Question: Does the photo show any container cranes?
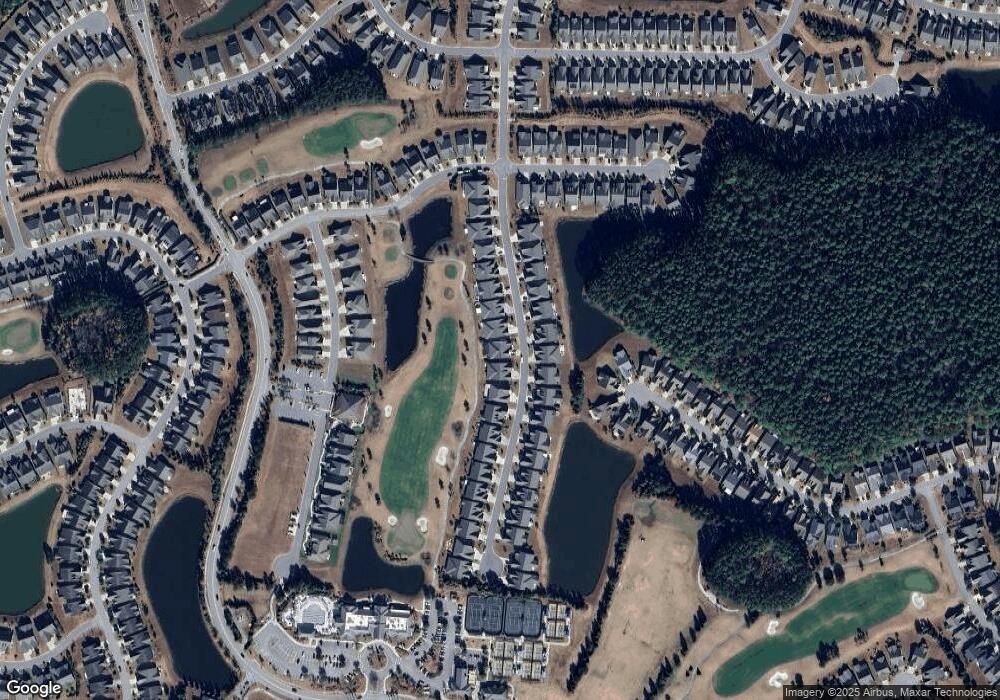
No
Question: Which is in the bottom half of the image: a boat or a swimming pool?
swimming pool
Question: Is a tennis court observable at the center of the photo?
No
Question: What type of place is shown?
residential area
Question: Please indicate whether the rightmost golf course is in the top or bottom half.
bottom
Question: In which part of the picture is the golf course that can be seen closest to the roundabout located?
center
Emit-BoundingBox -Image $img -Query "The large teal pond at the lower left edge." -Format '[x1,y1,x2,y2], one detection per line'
[0,486,61,615]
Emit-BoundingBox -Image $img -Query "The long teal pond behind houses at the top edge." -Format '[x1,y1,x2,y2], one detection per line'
[185,0,270,37]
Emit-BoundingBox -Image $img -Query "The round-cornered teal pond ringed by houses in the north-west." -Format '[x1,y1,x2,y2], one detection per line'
[57,80,145,172]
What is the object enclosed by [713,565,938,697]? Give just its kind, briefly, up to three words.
golf course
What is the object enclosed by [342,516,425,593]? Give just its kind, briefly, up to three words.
pond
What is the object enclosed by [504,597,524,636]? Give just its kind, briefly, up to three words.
tennis court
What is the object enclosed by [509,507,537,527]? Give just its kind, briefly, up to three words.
house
